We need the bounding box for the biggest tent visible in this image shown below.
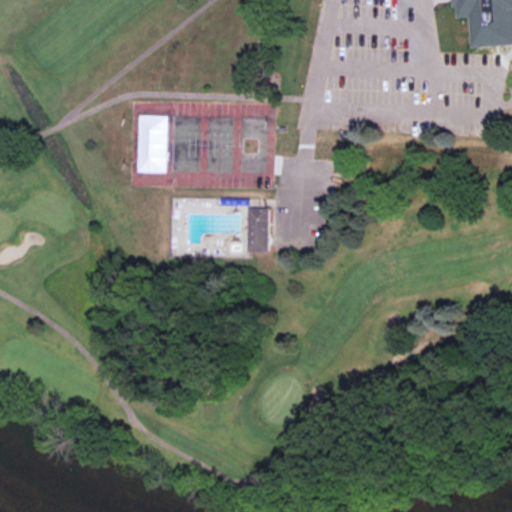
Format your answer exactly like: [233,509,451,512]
[137,114,172,174]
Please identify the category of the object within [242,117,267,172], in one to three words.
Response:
tennis court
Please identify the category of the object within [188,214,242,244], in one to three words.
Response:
swimming pool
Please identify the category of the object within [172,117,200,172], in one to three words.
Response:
tennis court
